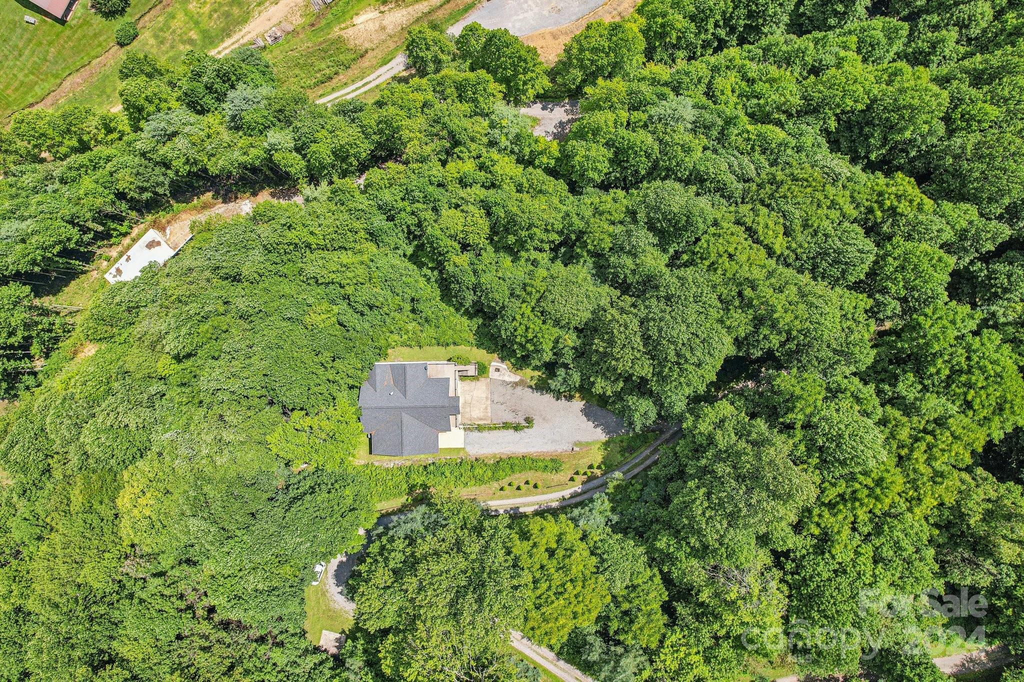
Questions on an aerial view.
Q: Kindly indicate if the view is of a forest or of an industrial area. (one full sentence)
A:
The picture captures a forest.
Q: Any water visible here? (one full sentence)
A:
No, water can't be seen anywhere here.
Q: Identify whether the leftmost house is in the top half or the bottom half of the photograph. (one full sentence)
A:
Seen from above, the leftmost house lies in the top half of the view.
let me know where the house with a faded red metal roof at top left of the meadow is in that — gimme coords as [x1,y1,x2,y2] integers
[30,0,92,29]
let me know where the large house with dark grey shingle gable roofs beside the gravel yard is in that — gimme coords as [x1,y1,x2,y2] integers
[359,363,477,457]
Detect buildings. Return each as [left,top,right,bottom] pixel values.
[104,228,180,293]
[359,363,477,457]
[30,0,92,29]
